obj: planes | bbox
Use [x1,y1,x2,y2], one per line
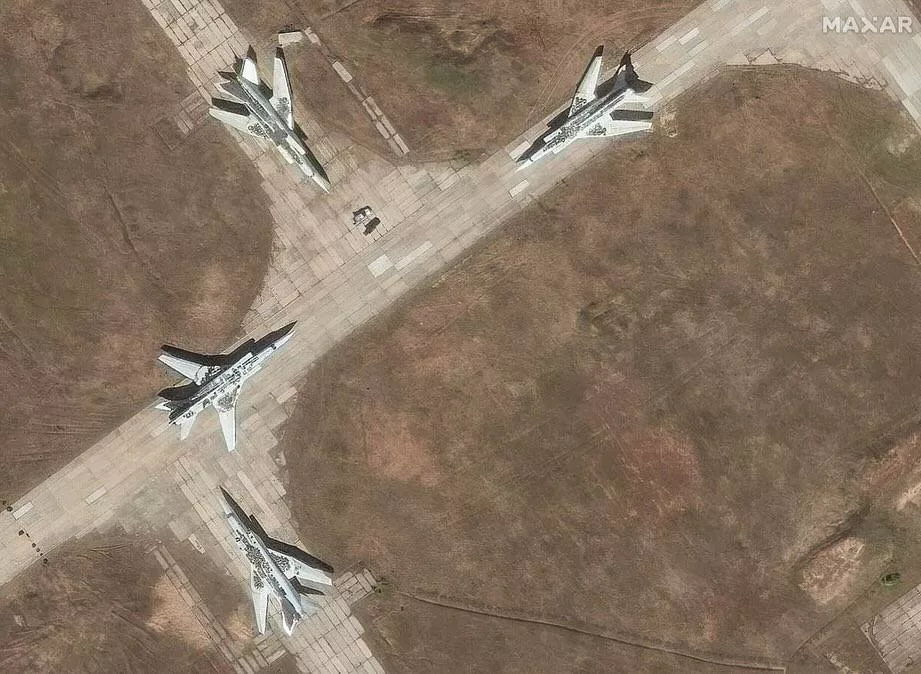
[219,495,336,635]
[209,56,331,196]
[157,329,297,452]
[514,49,657,172]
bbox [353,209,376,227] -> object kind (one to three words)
vehicle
